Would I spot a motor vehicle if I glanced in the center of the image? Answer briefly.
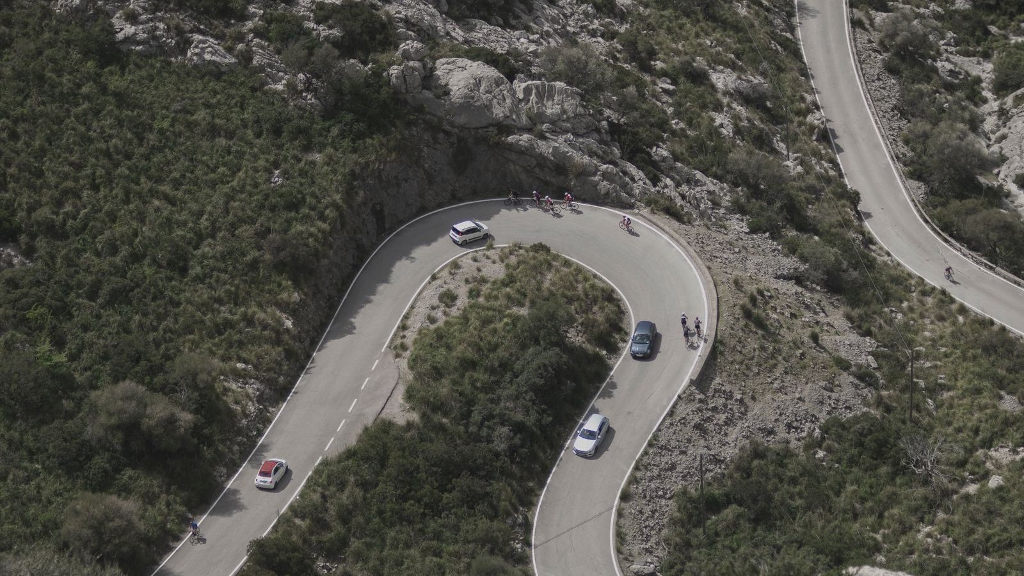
Yes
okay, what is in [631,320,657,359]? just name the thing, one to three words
car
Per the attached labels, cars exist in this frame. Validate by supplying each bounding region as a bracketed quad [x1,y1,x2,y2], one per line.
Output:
[631,320,657,359]
[451,220,489,244]
[573,415,610,458]
[258,457,291,489]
